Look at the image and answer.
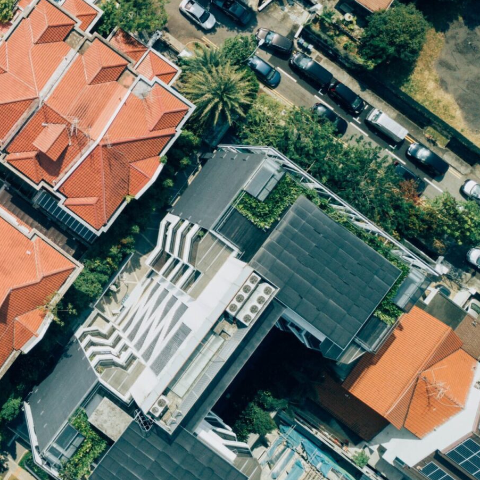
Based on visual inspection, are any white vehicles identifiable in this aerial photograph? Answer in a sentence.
Yes, a white vehicle appears in the view.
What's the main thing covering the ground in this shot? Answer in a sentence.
The scene is dominated by buildings.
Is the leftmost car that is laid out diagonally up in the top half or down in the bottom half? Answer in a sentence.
Seen from above, the leftmost car that is laid out diagonally lies in the top half of the view.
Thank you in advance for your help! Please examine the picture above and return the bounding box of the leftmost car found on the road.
[173,0,219,34]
